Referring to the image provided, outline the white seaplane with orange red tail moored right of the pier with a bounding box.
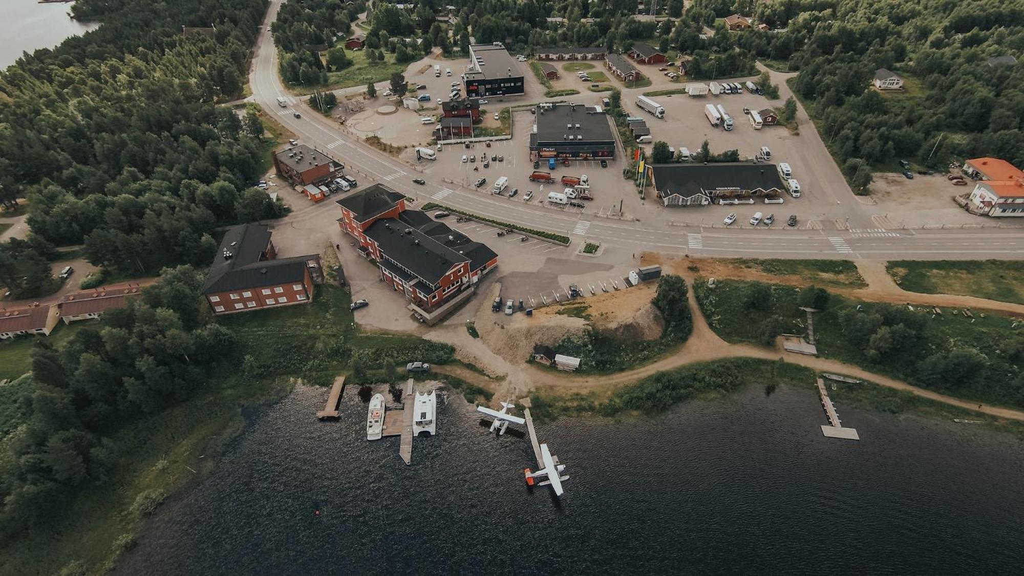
[523,443,571,496]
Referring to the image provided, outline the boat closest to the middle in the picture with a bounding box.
[414,391,436,440]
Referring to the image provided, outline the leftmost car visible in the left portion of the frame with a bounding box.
[60,266,73,279]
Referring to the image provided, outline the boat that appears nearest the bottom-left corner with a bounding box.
[367,390,385,445]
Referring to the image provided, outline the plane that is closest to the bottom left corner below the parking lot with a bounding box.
[477,393,526,435]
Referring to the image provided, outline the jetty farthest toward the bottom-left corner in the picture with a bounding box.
[317,377,346,418]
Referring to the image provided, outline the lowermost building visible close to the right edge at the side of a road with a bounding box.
[961,160,1024,215]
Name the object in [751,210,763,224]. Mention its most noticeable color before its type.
white vehicle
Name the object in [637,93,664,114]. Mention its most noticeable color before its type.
white truck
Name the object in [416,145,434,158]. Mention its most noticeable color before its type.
white vehicle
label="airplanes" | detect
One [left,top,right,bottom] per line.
[523,443,571,496]
[477,393,526,435]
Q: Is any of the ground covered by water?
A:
Yes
